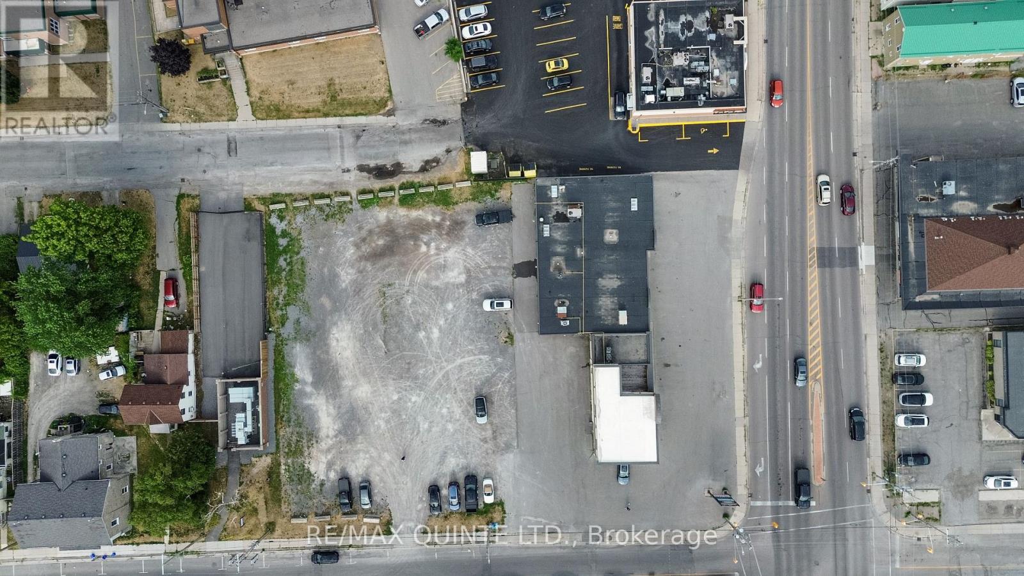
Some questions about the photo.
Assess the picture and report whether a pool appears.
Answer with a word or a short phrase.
No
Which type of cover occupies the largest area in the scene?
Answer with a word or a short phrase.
paved ground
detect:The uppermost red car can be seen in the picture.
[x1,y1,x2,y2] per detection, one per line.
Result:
[768,79,785,108]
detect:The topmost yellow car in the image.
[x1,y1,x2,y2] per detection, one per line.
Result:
[545,57,569,73]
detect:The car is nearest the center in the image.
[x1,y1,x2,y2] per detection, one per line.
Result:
[482,298,512,312]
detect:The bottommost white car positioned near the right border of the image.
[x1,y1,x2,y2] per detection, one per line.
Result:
[981,475,1018,491]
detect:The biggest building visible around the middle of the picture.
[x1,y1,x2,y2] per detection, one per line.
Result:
[535,175,654,335]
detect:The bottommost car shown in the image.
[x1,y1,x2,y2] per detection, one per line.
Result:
[312,549,340,566]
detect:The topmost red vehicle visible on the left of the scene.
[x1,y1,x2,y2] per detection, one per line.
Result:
[162,277,179,308]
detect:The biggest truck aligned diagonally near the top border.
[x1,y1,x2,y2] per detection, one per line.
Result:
[411,8,451,40]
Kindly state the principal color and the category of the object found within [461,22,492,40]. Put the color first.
white car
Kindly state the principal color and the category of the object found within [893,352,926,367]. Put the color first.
white car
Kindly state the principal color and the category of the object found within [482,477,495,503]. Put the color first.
white vehicle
